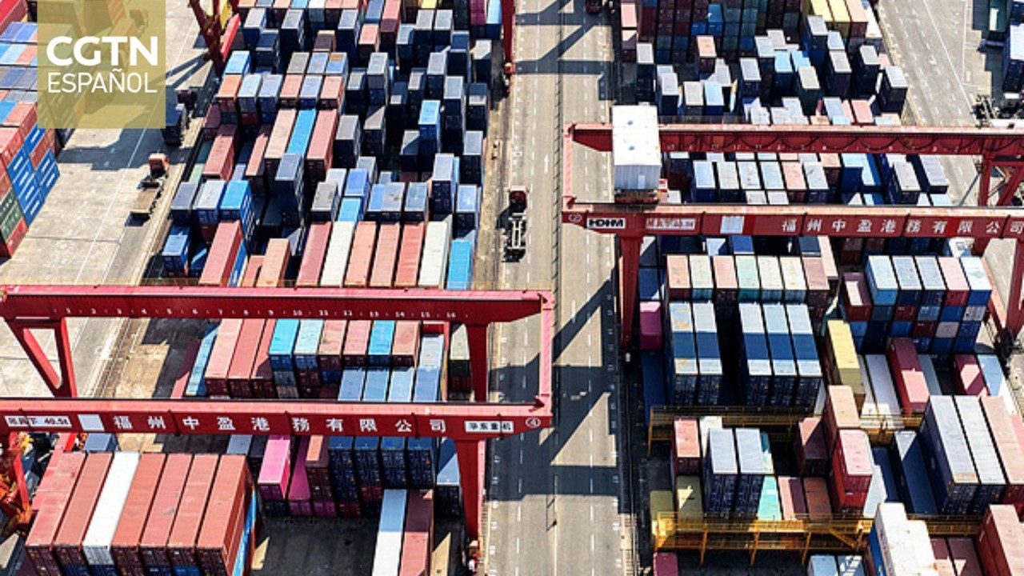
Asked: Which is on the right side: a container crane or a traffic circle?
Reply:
container crane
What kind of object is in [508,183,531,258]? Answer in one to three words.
truck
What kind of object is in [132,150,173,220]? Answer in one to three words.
truck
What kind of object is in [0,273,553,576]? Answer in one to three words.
container crane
